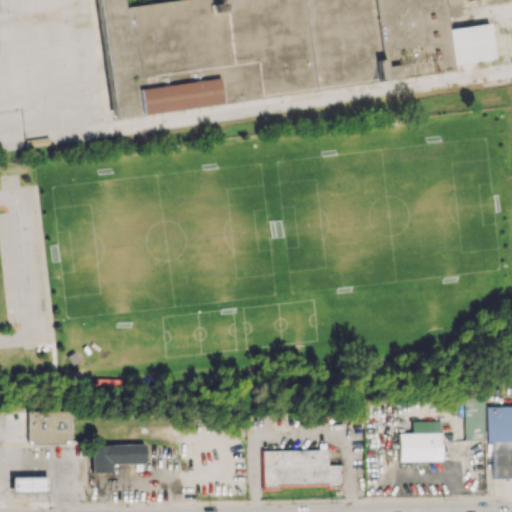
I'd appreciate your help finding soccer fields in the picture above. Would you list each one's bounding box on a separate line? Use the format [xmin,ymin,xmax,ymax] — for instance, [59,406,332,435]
[242,300,318,350]
[50,161,279,320]
[162,310,238,359]
[274,136,503,296]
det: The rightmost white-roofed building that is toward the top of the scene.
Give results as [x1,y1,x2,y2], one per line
[452,22,499,66]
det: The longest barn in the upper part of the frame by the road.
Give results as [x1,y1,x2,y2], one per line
[143,78,228,114]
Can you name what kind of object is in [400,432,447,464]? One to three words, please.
building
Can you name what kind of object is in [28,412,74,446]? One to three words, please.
building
